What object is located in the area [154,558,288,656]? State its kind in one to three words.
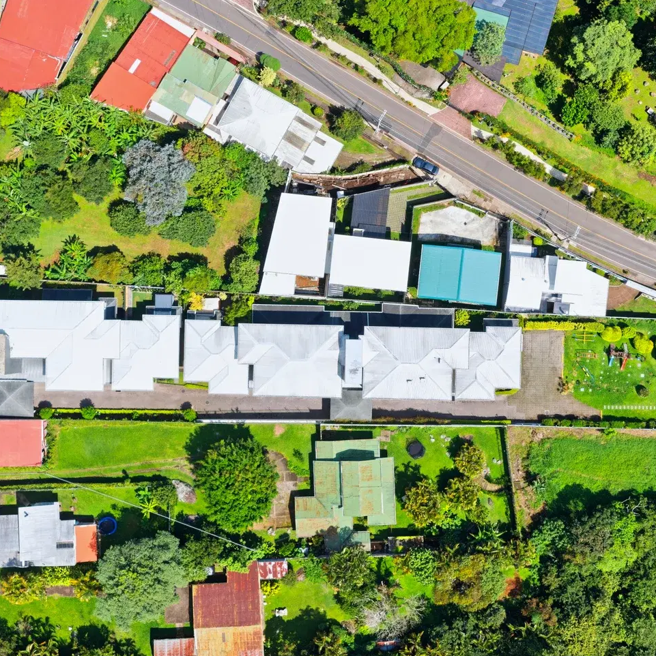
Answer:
house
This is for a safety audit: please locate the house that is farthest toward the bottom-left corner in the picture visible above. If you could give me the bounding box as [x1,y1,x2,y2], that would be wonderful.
[0,501,100,567]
